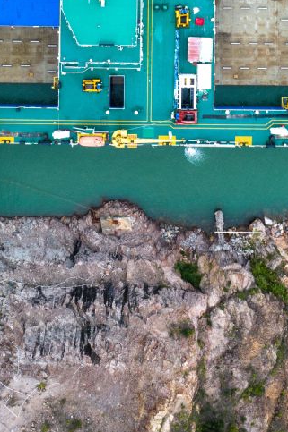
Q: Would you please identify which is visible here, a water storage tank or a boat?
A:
boat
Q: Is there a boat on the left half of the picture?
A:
Yes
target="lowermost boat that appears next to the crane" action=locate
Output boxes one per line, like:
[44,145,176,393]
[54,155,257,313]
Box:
[71,125,110,149]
